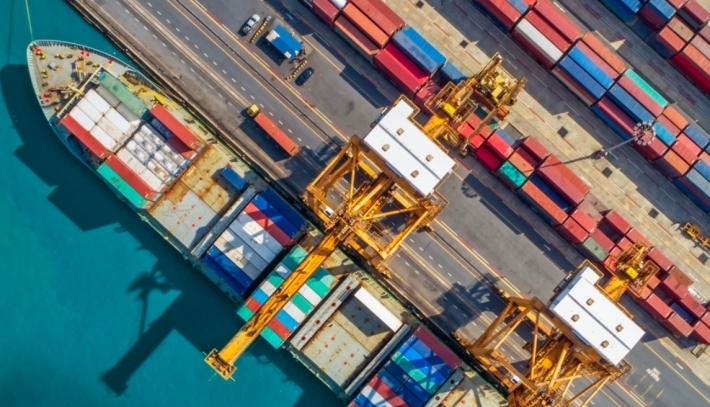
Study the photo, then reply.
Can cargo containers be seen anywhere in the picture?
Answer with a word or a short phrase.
Yes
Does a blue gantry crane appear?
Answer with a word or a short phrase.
No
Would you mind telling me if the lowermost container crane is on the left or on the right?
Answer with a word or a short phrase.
right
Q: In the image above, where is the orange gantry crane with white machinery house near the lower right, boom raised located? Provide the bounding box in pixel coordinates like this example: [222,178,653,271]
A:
[454,242,661,407]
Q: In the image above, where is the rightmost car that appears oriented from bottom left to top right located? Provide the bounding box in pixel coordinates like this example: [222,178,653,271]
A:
[294,67,313,85]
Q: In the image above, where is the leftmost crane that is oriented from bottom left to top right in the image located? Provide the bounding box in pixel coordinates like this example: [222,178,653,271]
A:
[202,78,478,379]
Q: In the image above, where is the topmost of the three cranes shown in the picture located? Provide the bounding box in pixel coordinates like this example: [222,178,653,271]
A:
[447,50,525,157]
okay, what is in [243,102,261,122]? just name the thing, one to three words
vehicle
